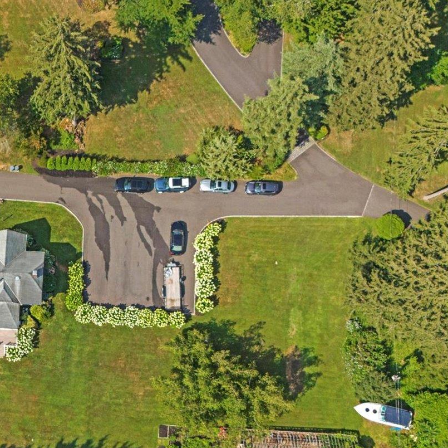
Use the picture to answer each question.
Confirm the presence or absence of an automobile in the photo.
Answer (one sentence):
Yes, the photo shows an automobile.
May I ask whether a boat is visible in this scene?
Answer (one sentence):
Yes, this view includes a boat.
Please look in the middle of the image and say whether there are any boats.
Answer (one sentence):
No, in the middle of the image there is no boat.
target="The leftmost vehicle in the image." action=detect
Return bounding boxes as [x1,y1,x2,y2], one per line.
[113,176,150,194]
